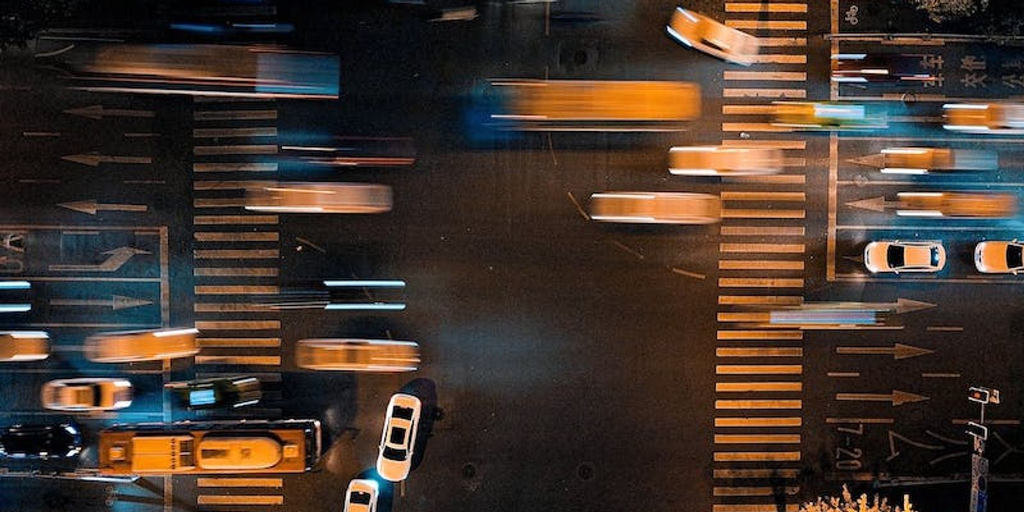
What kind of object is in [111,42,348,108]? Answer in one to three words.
bus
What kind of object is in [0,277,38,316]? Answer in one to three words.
car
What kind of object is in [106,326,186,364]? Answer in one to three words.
car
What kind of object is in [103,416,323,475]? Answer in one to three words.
bus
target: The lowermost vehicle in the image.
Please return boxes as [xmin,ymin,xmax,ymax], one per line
[344,474,382,512]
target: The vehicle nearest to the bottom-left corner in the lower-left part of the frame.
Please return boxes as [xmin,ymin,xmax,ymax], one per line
[0,421,89,461]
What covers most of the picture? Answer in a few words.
paved ground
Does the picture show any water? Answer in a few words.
No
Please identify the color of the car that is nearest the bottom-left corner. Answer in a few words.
black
